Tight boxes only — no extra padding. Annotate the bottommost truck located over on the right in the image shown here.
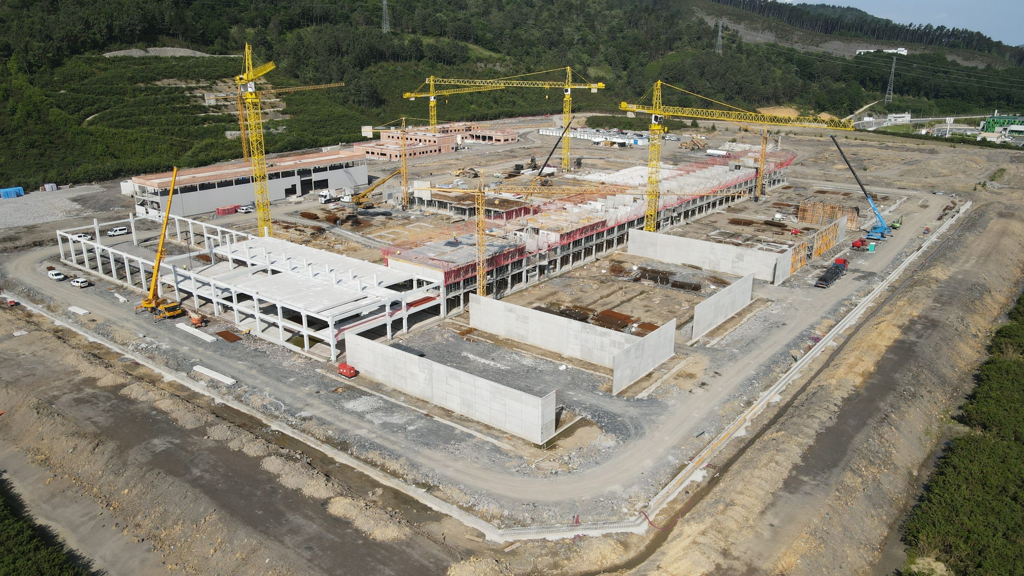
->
[825,259,851,287]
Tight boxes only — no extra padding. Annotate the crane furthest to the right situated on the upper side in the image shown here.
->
[829,136,898,242]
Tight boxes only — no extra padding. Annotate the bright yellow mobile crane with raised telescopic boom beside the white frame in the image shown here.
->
[129,166,192,320]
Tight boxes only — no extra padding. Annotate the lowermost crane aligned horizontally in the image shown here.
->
[416,169,752,298]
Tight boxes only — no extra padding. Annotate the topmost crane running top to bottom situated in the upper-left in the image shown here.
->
[244,43,283,240]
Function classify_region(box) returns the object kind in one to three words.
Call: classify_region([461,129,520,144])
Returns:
building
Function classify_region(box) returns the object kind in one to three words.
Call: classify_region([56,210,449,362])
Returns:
building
